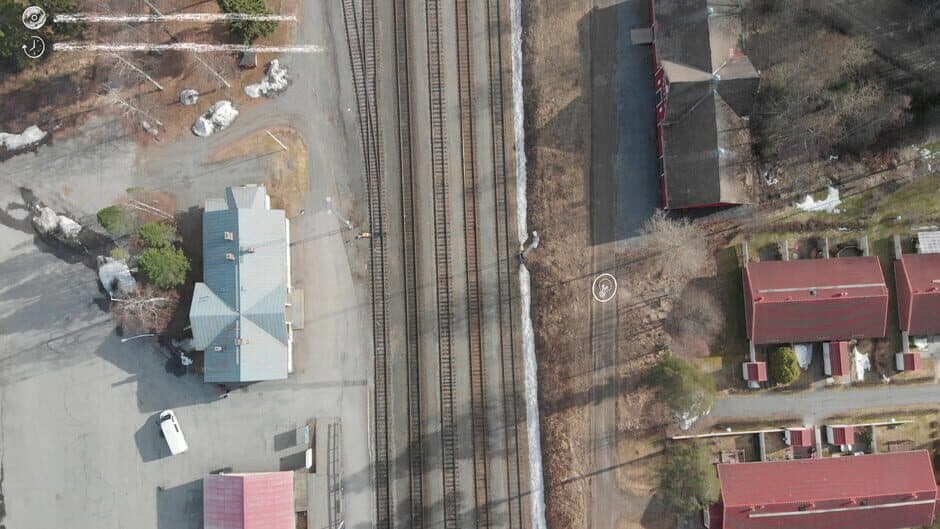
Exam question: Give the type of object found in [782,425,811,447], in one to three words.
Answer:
shed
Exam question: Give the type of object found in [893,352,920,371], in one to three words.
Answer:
shed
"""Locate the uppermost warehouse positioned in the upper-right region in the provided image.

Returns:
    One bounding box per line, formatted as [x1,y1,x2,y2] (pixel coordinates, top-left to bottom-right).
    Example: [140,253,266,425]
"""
[632,0,758,212]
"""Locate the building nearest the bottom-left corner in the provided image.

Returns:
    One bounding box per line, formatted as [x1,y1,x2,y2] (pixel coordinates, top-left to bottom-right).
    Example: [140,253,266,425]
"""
[201,470,297,529]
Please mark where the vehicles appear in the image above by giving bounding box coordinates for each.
[158,405,187,453]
